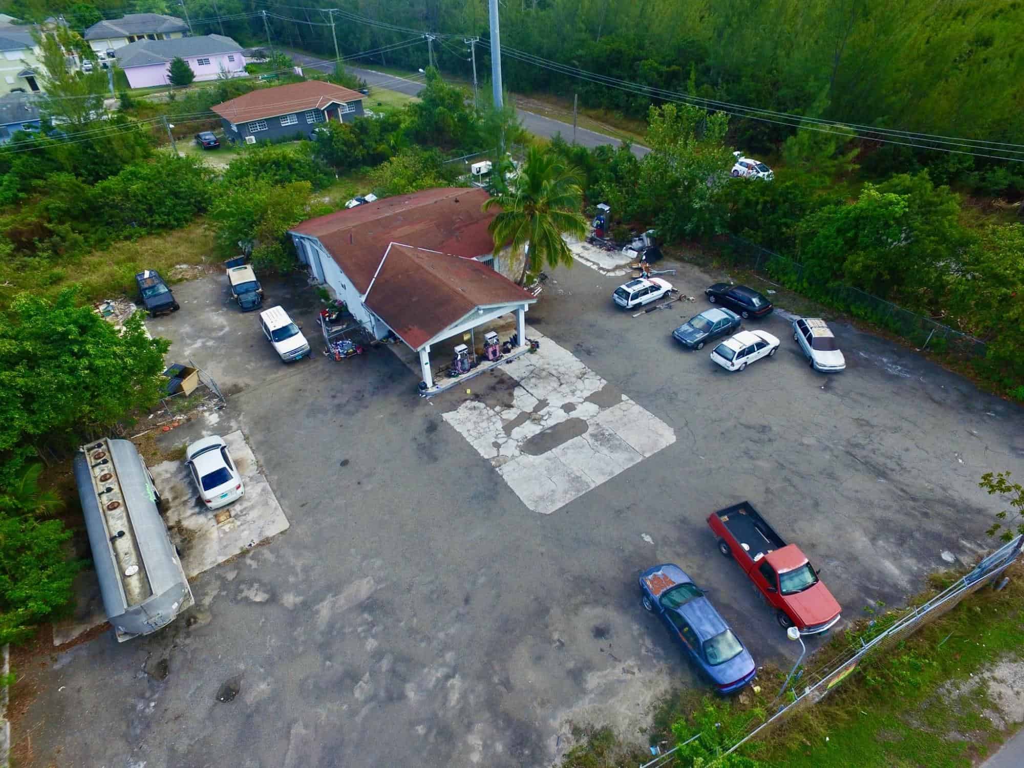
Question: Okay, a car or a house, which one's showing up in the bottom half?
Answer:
car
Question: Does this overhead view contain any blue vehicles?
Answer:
Yes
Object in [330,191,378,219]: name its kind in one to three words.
car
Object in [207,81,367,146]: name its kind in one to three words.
house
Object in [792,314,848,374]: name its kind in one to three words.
car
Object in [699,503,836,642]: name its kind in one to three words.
truck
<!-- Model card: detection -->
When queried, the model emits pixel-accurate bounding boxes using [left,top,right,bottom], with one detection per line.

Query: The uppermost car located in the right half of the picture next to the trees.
[726,151,769,180]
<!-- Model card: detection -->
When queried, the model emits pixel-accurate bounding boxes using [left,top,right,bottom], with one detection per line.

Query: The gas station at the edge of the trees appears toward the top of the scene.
[287,187,538,398]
